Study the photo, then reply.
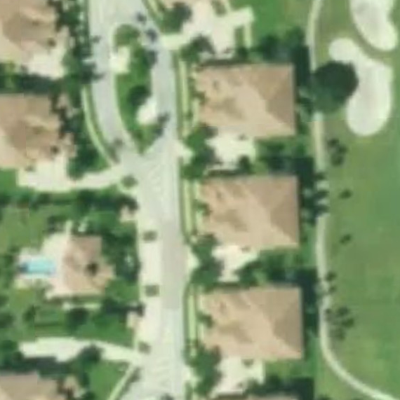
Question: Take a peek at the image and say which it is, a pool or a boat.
pool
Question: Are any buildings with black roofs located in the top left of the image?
No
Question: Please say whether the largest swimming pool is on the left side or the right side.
left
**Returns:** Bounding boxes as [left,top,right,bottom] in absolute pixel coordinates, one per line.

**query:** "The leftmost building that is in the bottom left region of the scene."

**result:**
[0,377,54,400]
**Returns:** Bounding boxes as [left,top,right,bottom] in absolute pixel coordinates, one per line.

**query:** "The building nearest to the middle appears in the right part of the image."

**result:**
[201,176,300,249]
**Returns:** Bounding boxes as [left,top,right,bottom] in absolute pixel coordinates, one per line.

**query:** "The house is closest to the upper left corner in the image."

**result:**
[0,0,60,59]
